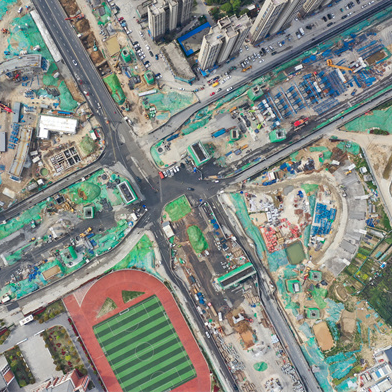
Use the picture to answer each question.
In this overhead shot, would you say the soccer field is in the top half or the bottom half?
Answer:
bottom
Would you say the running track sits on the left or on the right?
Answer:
left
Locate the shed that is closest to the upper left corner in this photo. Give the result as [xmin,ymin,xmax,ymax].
[29,10,62,62]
